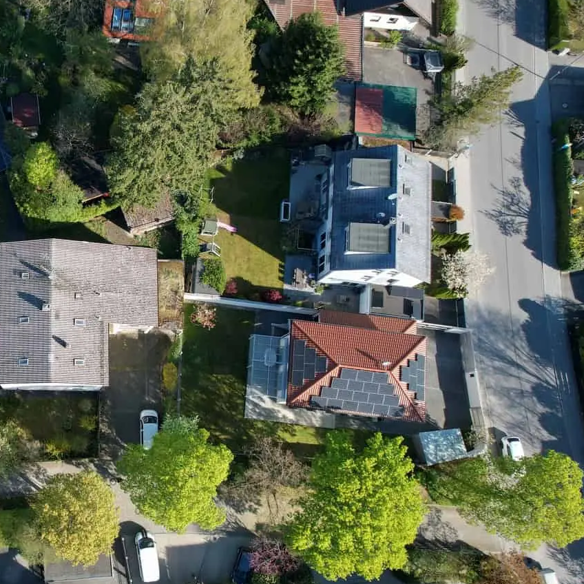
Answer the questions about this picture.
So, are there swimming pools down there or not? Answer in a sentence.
No, there appears to be no swimming pool in this shot.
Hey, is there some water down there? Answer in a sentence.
No, there's no water in this view.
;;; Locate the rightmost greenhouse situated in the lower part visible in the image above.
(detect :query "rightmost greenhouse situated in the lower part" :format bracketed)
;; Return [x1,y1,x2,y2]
[410,429,467,465]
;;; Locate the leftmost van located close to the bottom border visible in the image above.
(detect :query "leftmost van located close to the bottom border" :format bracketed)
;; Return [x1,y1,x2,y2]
[131,529,161,584]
